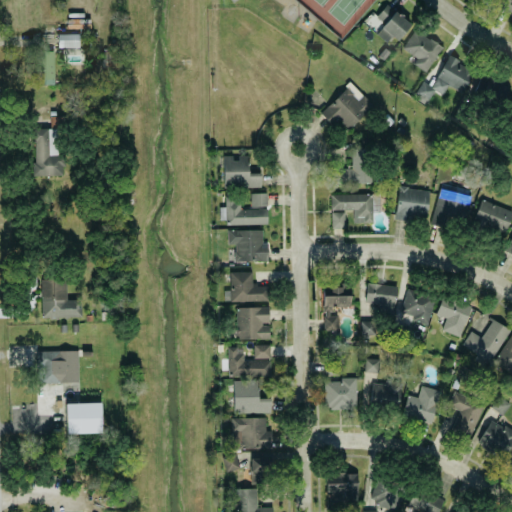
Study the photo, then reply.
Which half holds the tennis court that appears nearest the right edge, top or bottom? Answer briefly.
top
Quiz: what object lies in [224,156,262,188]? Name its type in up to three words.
house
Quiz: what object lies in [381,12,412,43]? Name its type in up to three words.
house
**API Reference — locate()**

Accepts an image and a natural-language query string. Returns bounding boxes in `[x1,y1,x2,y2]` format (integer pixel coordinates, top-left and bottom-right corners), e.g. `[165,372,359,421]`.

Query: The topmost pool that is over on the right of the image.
[372,212,389,232]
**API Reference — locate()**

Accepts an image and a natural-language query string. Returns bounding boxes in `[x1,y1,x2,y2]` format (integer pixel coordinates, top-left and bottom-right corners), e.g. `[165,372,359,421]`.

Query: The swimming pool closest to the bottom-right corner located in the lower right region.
[422,364,438,386]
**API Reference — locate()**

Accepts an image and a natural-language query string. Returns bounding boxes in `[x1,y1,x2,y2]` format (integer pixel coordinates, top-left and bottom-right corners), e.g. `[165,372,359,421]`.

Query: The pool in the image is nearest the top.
[66,49,85,70]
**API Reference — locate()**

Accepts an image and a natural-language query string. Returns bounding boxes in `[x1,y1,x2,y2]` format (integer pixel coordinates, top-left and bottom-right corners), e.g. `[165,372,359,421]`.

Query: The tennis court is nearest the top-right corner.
[320,0,378,38]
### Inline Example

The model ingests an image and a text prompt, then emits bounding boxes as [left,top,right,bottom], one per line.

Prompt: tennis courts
[320,0,378,38]
[301,0,334,16]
